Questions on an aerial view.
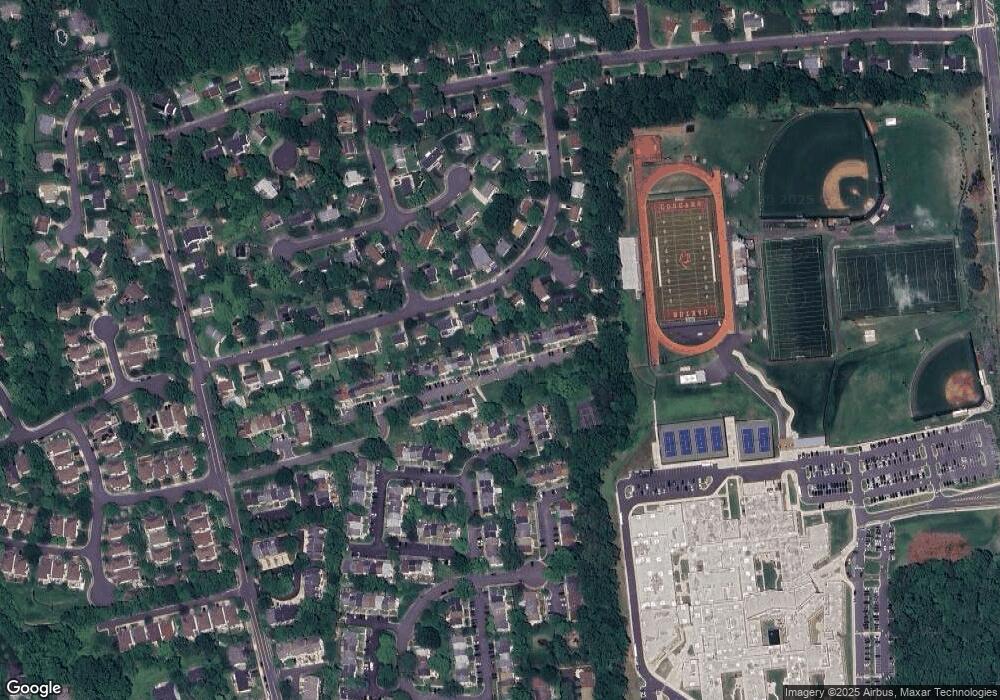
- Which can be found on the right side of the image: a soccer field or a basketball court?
soccer field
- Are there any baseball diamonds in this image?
Yes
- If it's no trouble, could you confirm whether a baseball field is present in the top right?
Yes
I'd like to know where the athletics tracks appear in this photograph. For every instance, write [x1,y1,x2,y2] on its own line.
[634,136,733,371]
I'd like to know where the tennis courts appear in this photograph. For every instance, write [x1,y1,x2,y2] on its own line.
[741,429,755,453]
[679,430,692,455]
[757,427,771,452]
[710,426,723,451]
[663,432,677,457]
[694,428,707,453]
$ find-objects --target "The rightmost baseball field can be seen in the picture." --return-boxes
[911,332,983,417]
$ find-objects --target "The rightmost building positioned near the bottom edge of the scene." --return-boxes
[632,491,845,700]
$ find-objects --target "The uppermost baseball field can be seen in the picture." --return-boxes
[761,108,882,217]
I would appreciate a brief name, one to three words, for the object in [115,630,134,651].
house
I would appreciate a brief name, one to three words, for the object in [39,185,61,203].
house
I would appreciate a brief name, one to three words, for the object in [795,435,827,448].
building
